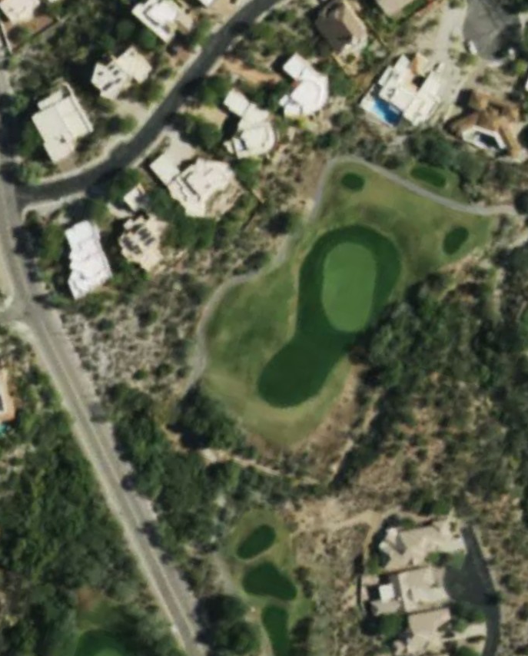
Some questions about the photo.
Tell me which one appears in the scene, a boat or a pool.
pool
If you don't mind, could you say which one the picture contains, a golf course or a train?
golf course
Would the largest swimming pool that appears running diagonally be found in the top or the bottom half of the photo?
top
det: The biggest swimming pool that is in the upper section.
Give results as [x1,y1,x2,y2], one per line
[371,96,404,126]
